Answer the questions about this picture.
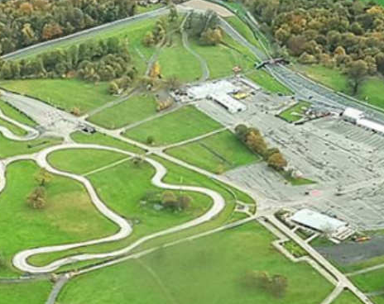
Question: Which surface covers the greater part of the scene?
grass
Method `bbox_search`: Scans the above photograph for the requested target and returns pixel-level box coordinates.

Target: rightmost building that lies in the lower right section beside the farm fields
[290,210,350,240]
